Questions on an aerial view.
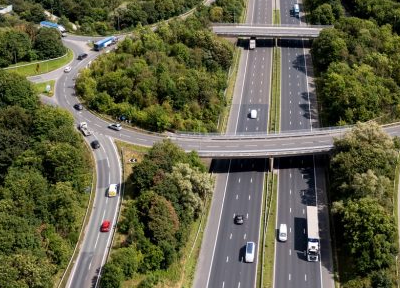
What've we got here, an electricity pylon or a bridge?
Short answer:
bridge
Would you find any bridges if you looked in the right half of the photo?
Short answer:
Yes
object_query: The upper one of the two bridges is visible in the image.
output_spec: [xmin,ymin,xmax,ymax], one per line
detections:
[217,24,332,47]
